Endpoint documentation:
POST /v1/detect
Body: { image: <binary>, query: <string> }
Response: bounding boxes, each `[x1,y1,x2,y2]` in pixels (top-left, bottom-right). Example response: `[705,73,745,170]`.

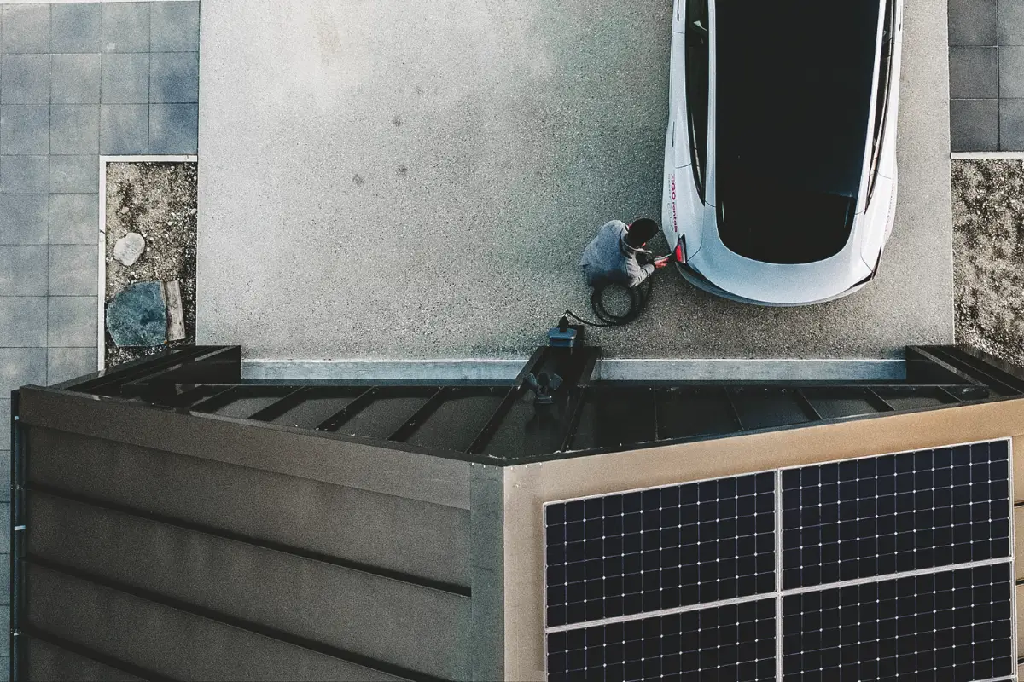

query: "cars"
[663,0,903,307]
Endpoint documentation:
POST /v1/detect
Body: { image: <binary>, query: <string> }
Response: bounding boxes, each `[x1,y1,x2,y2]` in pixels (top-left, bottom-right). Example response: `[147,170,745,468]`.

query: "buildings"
[4,348,1024,682]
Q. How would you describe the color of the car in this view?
black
